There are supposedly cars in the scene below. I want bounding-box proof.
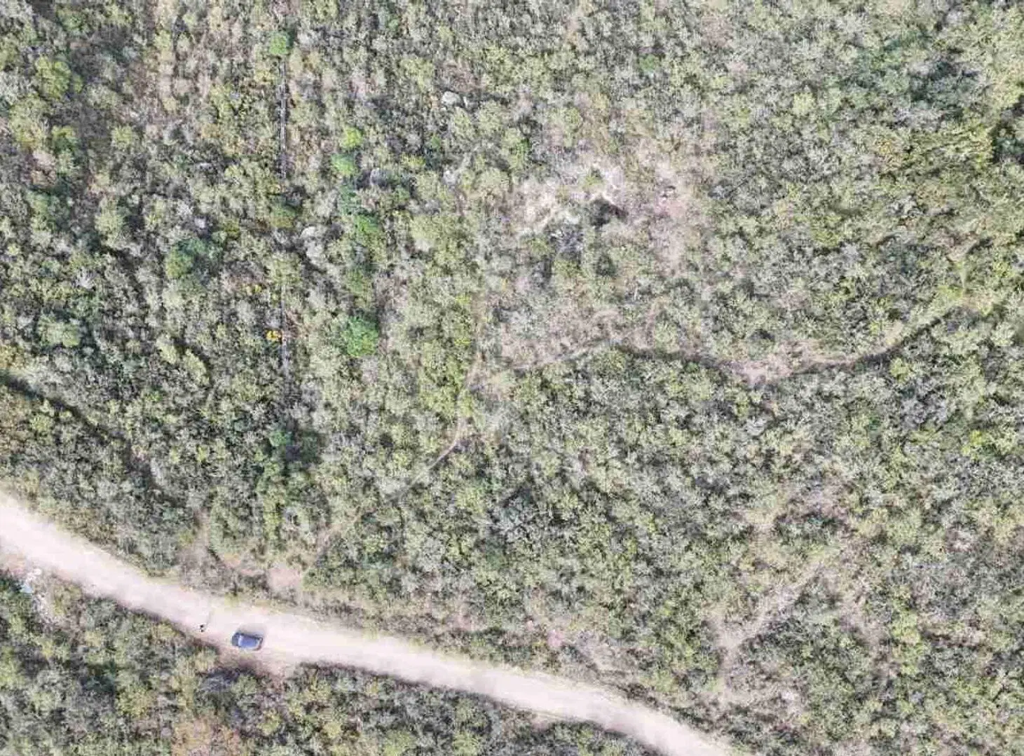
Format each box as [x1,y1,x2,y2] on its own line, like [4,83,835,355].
[231,630,264,650]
